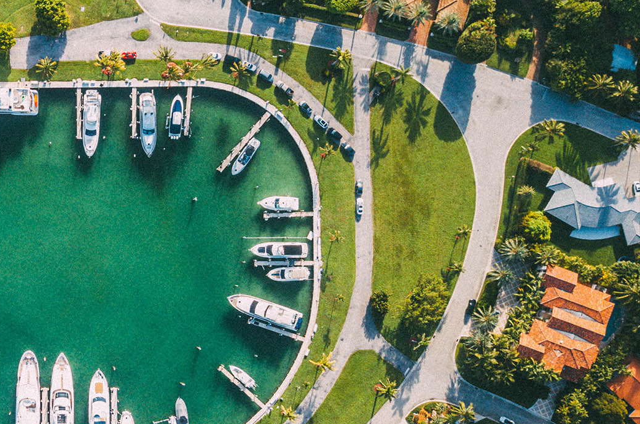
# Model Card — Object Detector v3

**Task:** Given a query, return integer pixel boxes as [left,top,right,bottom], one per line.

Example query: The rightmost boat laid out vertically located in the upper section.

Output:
[167,96,185,141]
